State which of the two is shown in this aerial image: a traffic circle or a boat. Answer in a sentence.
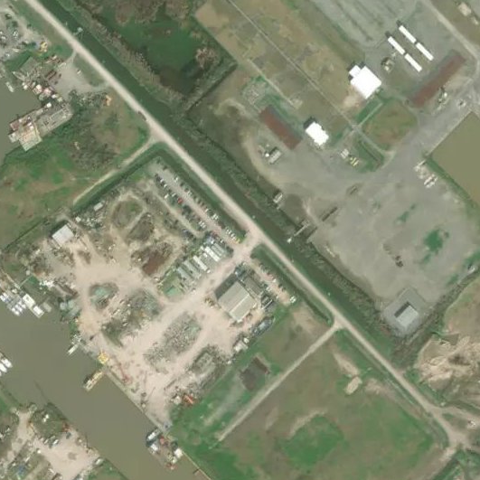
I can see a boat in this picture.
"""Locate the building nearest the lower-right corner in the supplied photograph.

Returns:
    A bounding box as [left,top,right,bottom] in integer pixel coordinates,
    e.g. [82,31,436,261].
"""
[395,304,419,327]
